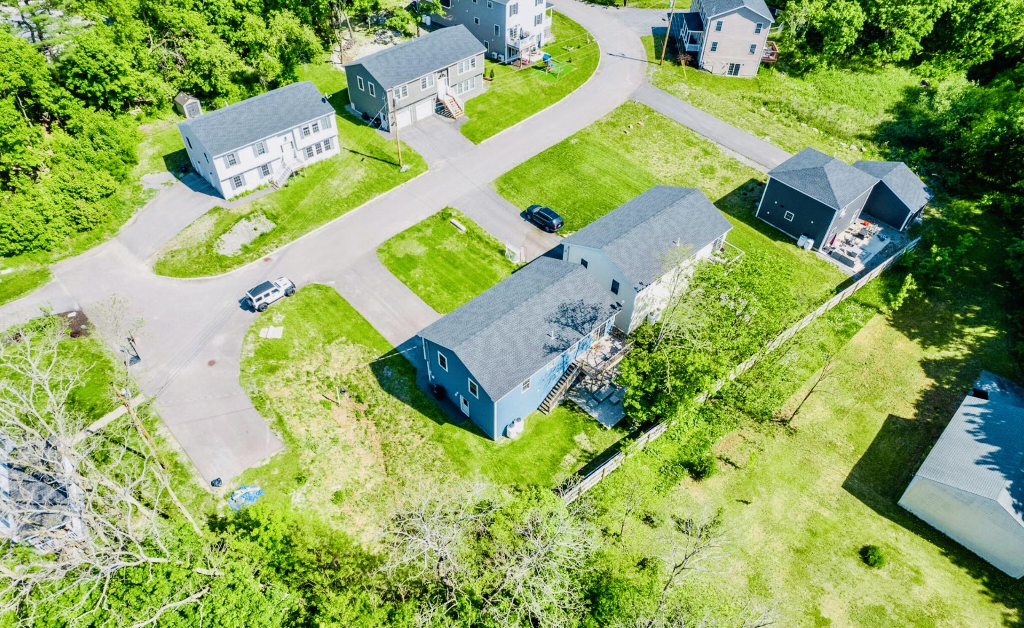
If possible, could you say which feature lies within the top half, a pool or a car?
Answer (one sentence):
The one visible within the top half is a car.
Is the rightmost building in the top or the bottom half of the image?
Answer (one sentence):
The rightmost building is in the bottom half of the image.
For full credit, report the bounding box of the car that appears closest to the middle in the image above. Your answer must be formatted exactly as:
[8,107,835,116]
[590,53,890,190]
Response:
[524,203,565,232]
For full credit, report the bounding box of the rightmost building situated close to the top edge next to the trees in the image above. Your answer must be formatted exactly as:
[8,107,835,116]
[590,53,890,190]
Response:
[682,0,774,74]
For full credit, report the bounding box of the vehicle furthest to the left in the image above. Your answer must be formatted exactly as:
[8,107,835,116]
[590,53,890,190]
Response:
[243,278,295,312]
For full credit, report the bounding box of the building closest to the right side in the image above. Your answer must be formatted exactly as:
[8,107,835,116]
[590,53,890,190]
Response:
[898,396,1024,579]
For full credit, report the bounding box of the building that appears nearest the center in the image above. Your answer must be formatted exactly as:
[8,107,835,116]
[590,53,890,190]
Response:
[418,256,620,441]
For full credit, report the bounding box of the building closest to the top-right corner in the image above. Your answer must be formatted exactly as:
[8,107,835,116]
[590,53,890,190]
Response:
[849,158,935,230]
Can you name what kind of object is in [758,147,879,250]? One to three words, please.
house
